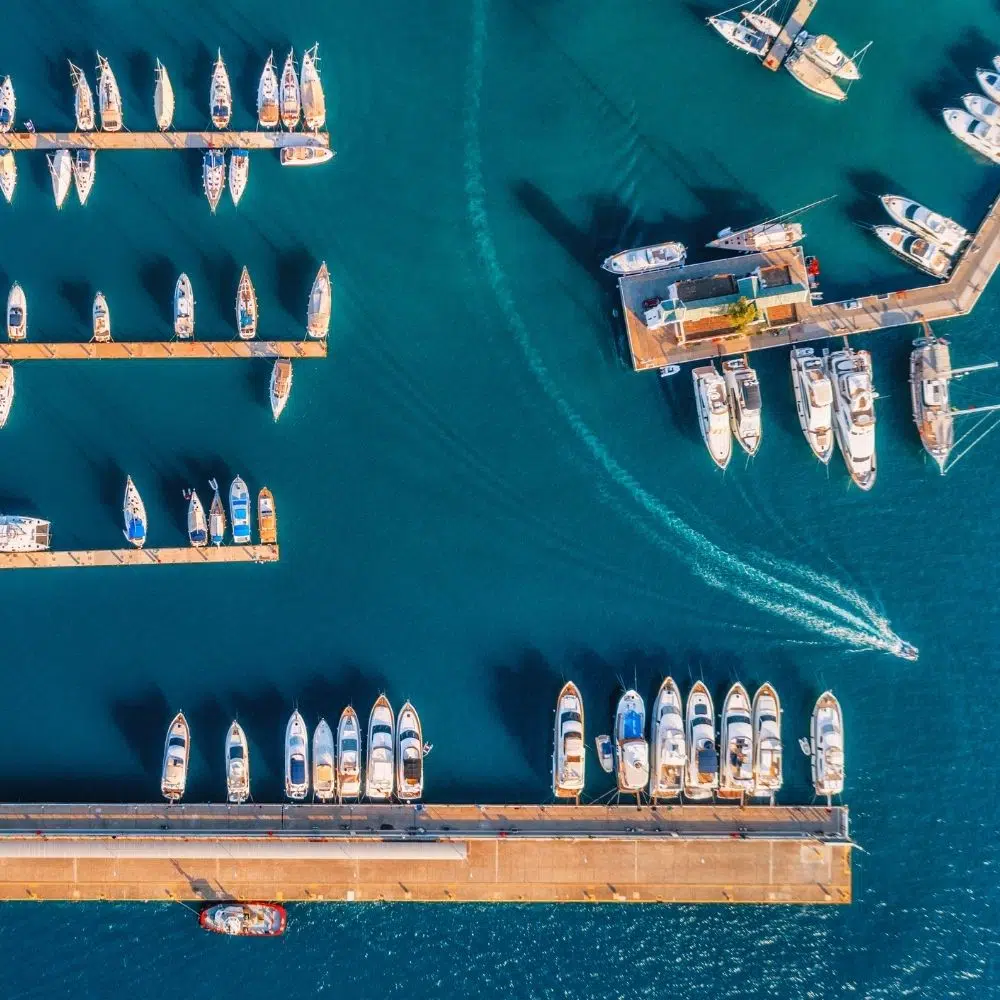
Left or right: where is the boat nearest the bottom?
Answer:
left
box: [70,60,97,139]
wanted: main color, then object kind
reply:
white boat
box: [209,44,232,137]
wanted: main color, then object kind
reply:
white boat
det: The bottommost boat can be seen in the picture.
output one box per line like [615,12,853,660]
[174,898,290,938]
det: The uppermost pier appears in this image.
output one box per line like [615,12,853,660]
[761,0,816,72]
